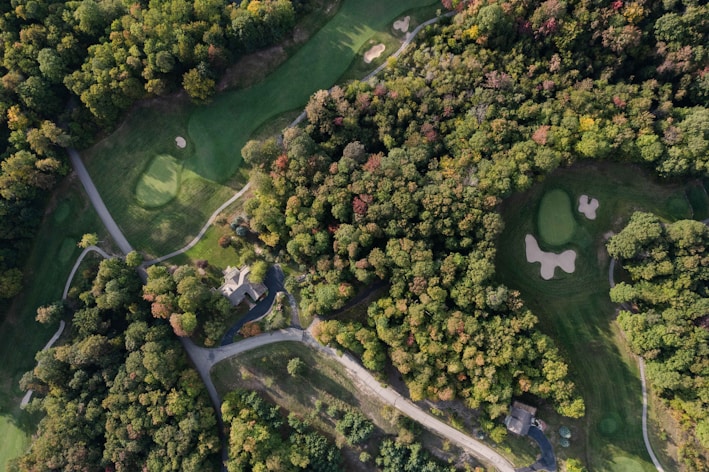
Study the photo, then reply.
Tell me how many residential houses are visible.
2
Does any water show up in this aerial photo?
No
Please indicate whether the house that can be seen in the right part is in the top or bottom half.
bottom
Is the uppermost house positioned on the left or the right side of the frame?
left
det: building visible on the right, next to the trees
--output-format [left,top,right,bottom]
[501,399,537,435]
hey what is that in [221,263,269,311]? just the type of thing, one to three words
house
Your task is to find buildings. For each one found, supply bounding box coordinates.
[501,399,537,435]
[221,263,269,311]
